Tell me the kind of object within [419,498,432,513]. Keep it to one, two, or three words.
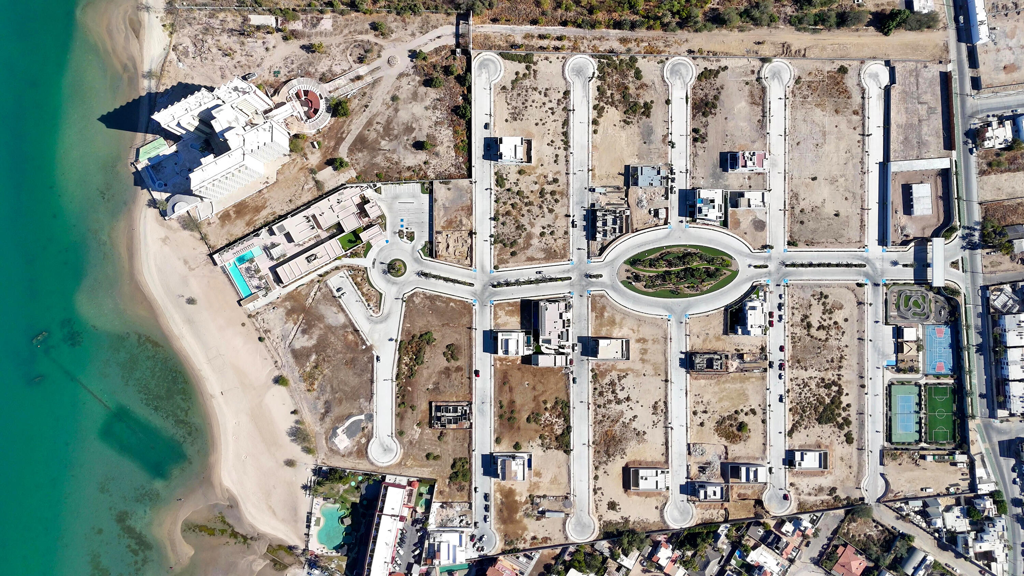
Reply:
swimming pool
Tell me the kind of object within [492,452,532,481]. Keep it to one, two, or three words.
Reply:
house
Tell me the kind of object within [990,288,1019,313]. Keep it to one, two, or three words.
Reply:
shed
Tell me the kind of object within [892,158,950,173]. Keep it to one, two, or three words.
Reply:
building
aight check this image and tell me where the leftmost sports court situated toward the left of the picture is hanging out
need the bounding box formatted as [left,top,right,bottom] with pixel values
[135,136,170,162]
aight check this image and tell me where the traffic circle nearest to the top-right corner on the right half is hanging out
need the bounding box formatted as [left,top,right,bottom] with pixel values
[619,245,739,298]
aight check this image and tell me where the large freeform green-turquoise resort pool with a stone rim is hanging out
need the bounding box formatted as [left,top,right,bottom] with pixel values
[316,502,347,552]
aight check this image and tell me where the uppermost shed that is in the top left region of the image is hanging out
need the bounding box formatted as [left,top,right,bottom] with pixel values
[248,15,280,28]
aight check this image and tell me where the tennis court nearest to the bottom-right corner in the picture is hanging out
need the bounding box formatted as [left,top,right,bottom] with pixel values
[892,385,919,442]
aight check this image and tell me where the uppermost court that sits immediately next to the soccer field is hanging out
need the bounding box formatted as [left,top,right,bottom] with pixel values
[926,325,952,374]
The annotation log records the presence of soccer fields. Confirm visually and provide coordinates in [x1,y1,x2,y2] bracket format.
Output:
[928,385,954,444]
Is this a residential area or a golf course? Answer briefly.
residential area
